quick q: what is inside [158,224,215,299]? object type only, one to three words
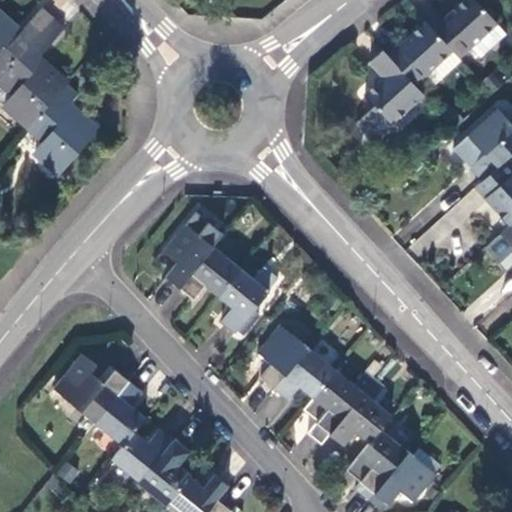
house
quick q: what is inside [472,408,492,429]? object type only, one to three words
car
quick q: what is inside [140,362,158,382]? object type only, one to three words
car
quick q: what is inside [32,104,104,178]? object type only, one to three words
house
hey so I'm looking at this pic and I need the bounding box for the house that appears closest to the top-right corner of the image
[426,0,506,60]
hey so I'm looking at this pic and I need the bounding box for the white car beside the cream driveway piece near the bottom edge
[230,476,251,498]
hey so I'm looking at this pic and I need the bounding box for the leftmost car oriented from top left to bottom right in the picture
[172,376,192,398]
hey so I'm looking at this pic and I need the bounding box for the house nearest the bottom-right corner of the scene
[380,444,442,511]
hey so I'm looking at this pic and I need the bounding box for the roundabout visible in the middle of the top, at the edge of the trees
[148,30,292,178]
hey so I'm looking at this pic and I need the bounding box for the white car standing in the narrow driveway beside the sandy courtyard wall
[441,190,460,210]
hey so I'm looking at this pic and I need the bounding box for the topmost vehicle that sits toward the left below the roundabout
[156,283,172,304]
